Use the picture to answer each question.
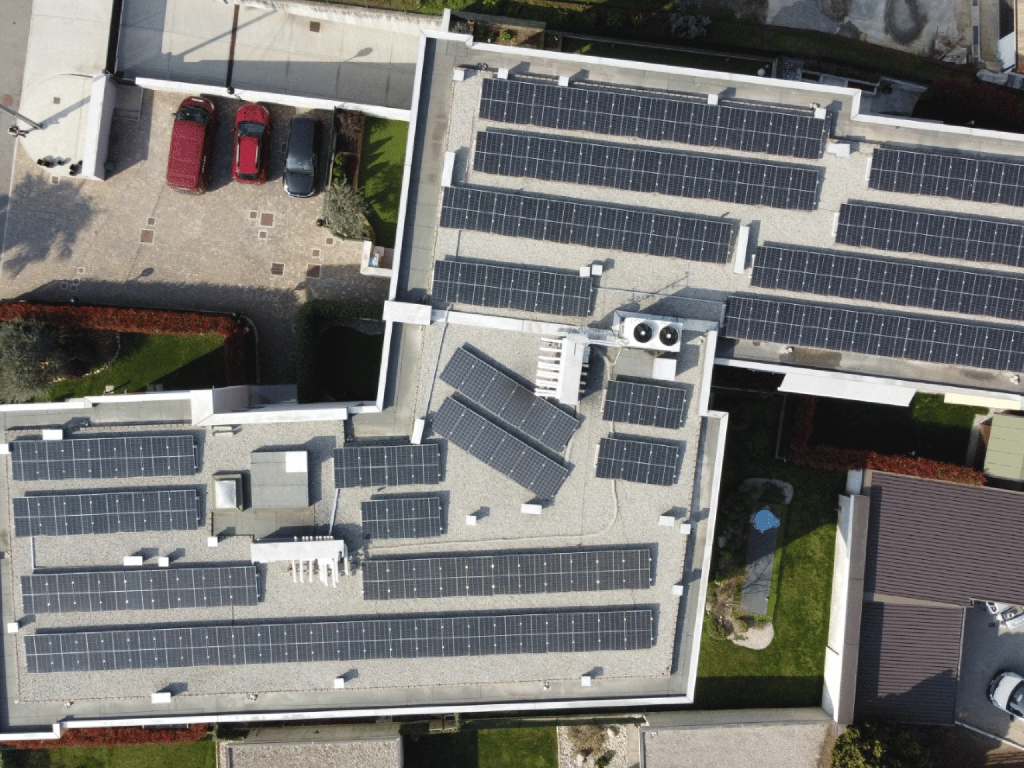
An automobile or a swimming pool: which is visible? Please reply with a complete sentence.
It is an automobile that can be seen here.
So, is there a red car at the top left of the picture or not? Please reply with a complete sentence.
Yes, a red car appears at the top left of the picture.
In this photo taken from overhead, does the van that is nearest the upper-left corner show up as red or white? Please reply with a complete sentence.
From above, the van that is nearest the upper-left corner appears red.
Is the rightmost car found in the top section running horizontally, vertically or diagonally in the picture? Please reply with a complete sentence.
Seen from above, the rightmost car found in the top section lies vertically.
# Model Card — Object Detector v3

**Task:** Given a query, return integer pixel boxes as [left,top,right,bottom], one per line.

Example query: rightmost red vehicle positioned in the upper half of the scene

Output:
[229,105,272,187]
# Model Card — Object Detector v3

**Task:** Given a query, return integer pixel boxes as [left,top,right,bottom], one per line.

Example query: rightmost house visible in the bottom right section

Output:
[854,474,1024,726]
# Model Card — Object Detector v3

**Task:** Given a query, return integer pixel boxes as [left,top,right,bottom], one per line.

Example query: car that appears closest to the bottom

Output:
[981,674,1024,726]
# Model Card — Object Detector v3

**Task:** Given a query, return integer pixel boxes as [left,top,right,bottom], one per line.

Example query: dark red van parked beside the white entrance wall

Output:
[162,98,219,196]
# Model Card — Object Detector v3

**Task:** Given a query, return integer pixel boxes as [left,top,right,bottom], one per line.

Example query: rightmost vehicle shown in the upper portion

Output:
[279,115,323,200]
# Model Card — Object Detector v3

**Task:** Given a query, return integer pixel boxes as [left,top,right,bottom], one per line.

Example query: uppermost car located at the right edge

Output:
[990,606,1024,638]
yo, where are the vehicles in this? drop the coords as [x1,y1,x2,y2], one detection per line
[990,606,1024,638]
[981,674,1024,726]
[279,115,323,200]
[229,105,272,187]
[162,98,219,196]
